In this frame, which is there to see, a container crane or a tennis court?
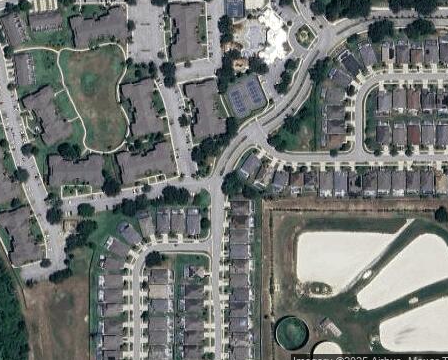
tennis court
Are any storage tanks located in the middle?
No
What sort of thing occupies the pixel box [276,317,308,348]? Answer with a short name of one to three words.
storage tank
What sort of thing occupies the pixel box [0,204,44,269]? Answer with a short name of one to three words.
building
